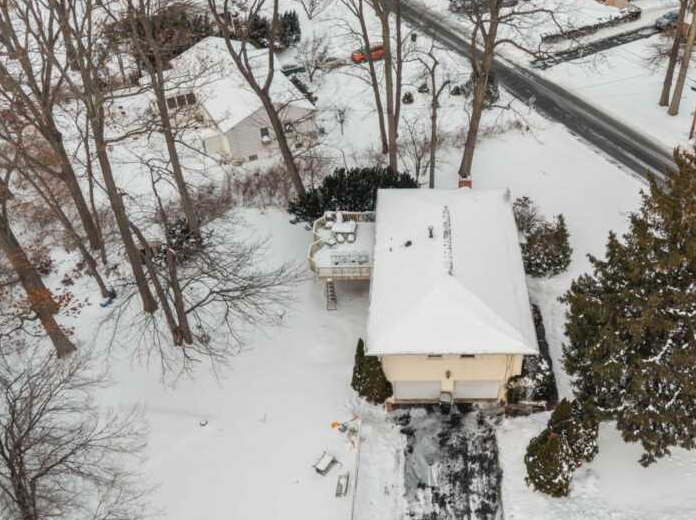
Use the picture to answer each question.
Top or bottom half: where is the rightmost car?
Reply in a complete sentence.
The rightmost car is in the top half of the image.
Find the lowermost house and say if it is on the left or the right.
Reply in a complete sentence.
You can find the lowermost house on the right side of the picture.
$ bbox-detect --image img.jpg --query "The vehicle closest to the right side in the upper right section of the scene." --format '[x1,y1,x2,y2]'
[649,11,677,33]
